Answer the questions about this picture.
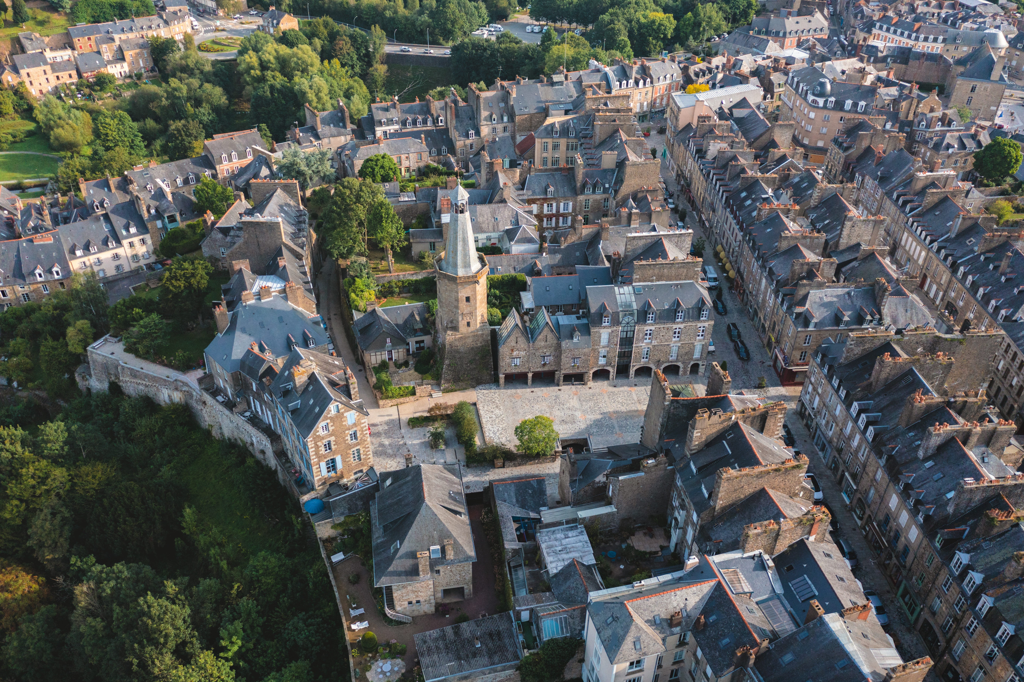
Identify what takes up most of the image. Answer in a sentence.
The scene is dominated by buildings.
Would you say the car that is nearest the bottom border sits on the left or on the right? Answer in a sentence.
The car that is nearest the bottom border sits on the right side.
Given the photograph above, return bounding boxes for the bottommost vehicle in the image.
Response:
[863,588,895,622]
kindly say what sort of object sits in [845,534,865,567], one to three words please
car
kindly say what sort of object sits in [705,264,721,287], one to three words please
vehicle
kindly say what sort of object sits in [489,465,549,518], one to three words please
shed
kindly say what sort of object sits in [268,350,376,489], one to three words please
house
